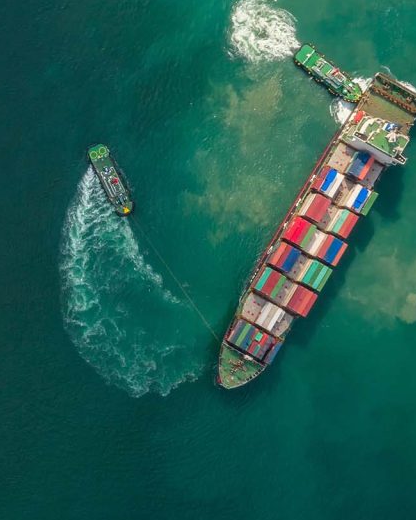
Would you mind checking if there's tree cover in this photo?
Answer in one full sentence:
No, there is no tree cover in the image.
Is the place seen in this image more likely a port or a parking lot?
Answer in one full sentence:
What you see here is a port.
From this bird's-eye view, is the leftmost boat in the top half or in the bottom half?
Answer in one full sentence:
The top half of the photo is where the leftmost boat is.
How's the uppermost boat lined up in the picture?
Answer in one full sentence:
The uppermost boat is laid out at an angle.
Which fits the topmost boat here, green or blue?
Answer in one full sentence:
The topmost boat looks green in the image.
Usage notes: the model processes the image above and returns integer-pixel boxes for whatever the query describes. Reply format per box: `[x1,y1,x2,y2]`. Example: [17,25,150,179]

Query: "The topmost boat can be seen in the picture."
[292,42,363,104]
